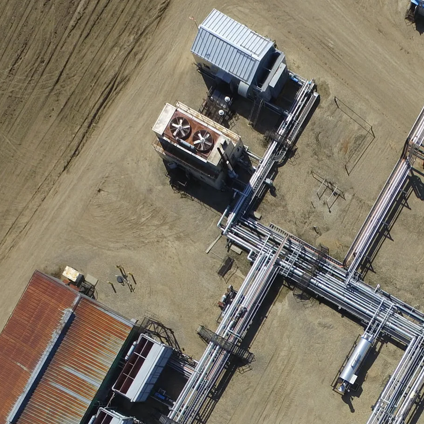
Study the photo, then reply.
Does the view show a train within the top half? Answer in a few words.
No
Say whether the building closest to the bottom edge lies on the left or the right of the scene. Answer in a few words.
left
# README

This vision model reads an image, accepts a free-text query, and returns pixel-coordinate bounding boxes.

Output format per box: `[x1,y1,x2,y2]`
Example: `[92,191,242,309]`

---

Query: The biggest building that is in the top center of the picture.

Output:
[190,9,296,111]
